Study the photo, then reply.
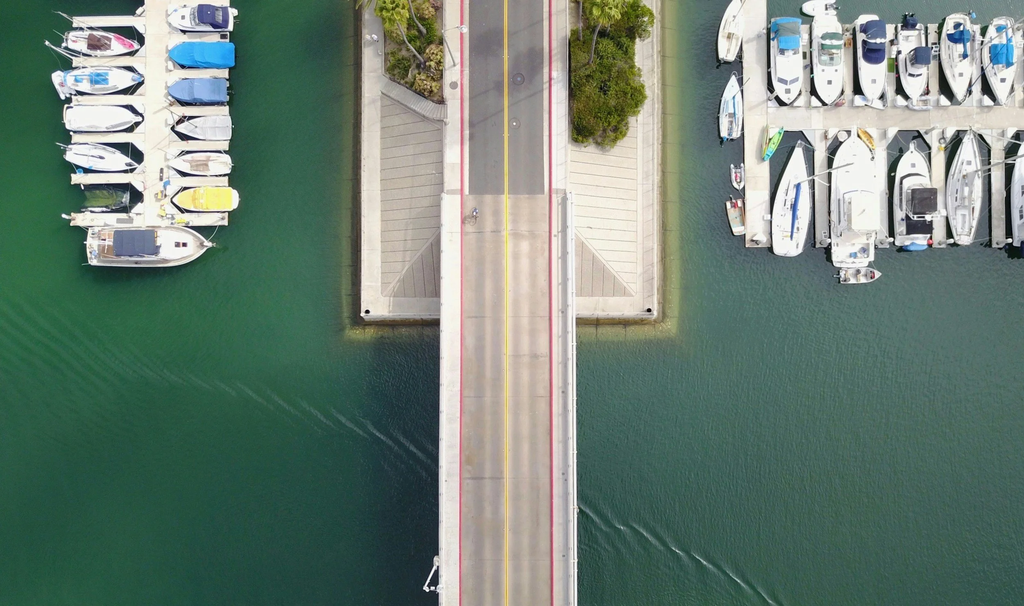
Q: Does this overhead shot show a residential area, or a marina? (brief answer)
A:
marina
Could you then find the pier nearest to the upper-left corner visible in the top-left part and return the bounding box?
[70,0,229,226]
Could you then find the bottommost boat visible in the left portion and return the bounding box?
[81,225,219,267]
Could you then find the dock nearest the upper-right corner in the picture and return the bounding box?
[743,0,1024,248]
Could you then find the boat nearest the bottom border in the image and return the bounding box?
[837,262,881,284]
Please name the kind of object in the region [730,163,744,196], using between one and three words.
boat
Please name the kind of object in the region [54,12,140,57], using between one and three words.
boat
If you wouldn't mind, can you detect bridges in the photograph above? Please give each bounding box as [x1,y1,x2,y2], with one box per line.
[437,192,580,606]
